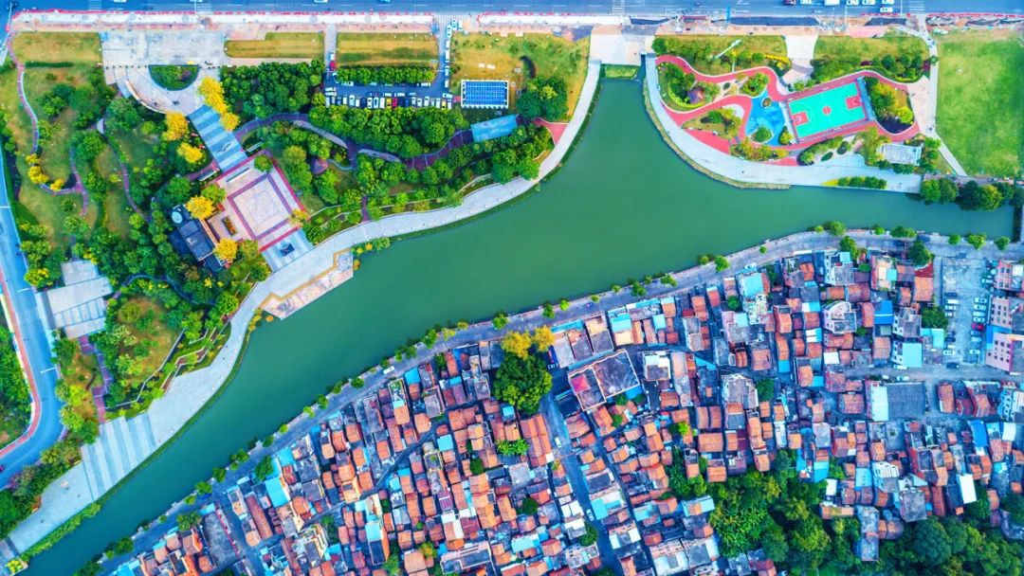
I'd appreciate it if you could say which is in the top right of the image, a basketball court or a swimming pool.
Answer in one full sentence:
The feature located in the top right of the image is a basketball court.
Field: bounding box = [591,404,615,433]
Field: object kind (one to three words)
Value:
house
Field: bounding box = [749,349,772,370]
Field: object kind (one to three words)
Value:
house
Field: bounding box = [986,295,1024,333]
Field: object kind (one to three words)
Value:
building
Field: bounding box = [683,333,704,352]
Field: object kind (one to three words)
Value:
building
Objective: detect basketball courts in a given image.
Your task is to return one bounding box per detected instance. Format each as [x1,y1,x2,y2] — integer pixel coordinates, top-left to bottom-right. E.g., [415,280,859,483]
[785,80,868,141]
